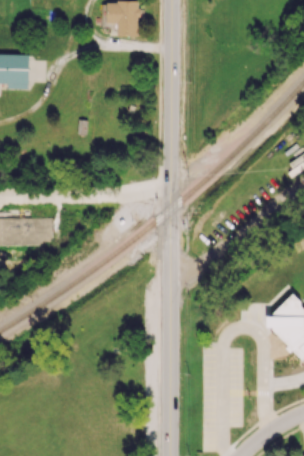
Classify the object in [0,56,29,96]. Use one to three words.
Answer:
barn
